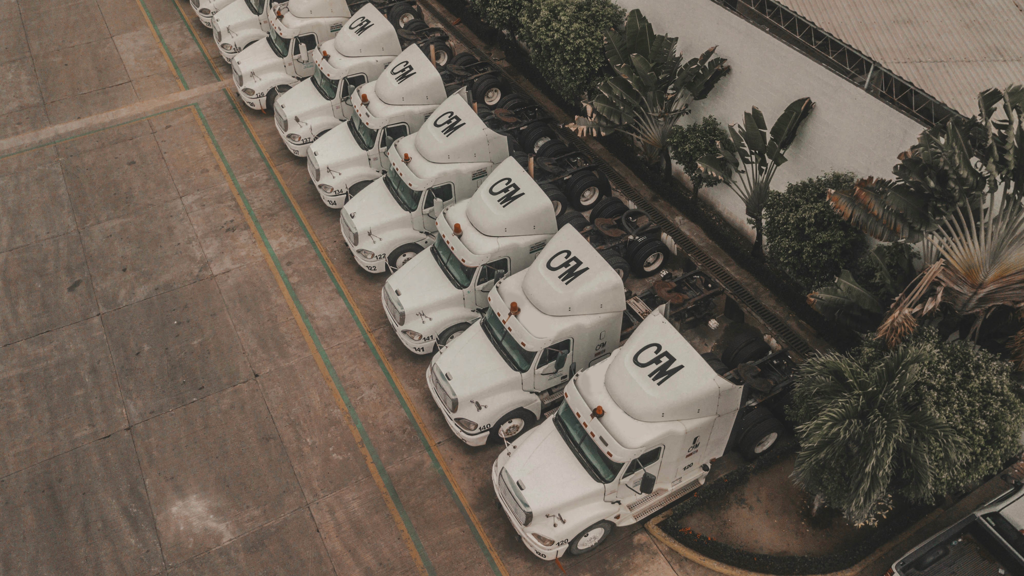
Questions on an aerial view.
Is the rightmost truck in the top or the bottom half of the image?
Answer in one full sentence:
The rightmost truck is in the bottom half of the image.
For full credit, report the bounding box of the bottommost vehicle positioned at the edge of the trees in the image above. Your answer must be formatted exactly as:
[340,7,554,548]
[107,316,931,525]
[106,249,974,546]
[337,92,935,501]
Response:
[885,468,1024,576]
